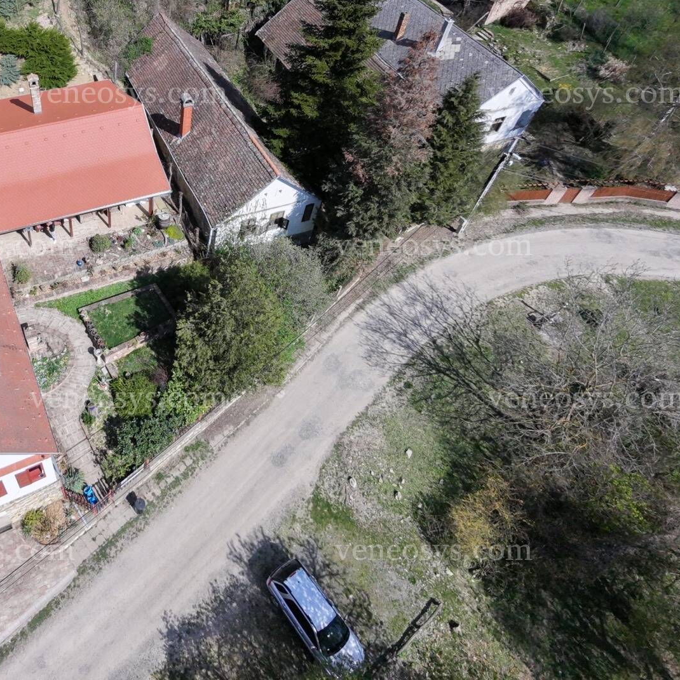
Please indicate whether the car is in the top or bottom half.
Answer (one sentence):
The car is in the bottom half of the image.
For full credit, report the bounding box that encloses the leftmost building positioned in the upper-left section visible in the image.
[0,70,171,247]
